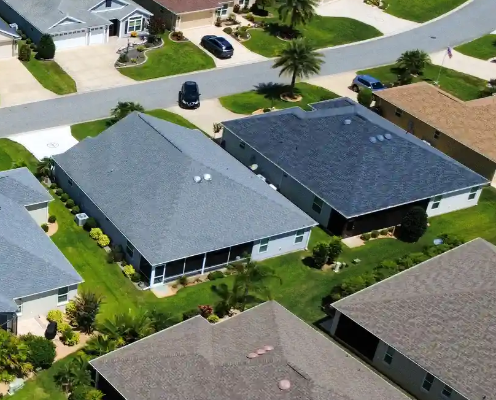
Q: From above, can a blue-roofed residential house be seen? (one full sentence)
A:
Yes, the frame does contain a blue-roofed residential house.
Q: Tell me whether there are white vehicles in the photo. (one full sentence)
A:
No, no white vehicle can be seen from above.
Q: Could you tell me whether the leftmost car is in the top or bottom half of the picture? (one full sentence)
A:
The top half of the photo is where the leftmost car is.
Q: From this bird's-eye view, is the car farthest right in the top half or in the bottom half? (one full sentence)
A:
The car farthest right is in the top half of the image.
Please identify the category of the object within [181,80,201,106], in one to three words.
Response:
car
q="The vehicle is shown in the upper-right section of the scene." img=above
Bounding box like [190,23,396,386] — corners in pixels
[353,68,394,91]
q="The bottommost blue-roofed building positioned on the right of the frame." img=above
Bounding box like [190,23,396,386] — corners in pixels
[220,95,488,239]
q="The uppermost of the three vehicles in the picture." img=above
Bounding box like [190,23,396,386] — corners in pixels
[203,36,231,54]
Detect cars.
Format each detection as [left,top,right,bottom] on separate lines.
[353,68,394,91]
[203,36,231,54]
[181,80,201,106]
